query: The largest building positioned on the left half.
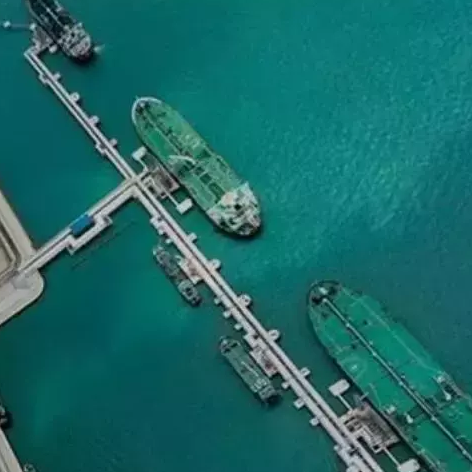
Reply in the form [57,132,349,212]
[69,213,95,239]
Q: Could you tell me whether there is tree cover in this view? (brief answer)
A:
No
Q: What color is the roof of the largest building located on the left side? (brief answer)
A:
blue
